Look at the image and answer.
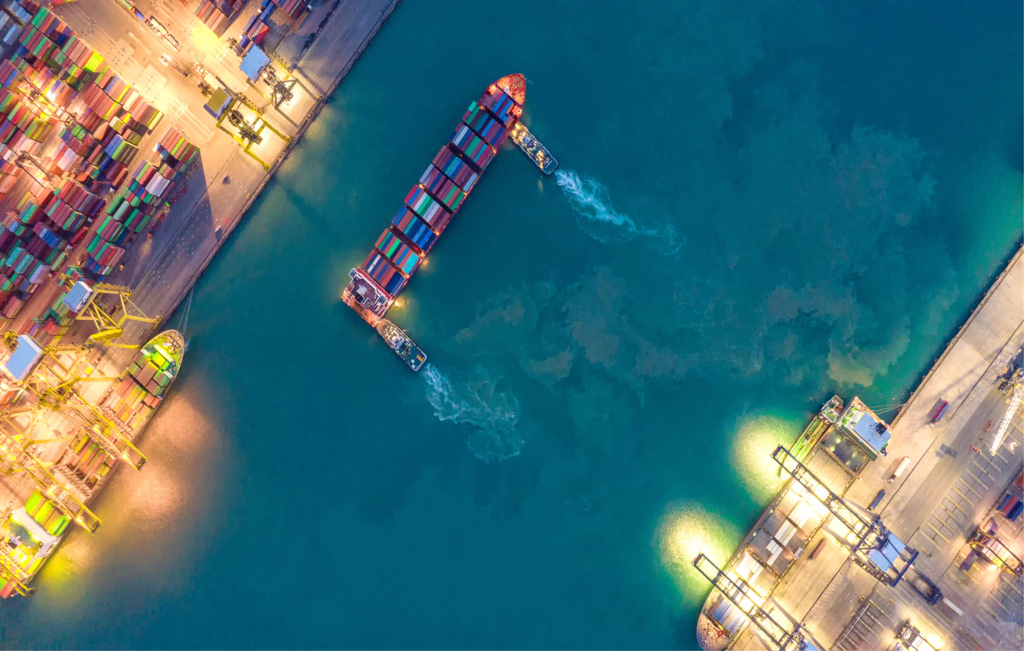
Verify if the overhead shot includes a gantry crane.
Yes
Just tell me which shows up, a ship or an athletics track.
ship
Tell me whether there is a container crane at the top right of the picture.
No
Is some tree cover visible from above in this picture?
No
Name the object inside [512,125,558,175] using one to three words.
boat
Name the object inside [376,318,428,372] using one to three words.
boat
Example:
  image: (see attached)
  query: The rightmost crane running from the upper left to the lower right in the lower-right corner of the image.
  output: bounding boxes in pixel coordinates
[956,521,1024,577]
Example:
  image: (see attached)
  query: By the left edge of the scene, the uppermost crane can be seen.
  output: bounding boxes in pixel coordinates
[14,74,82,124]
